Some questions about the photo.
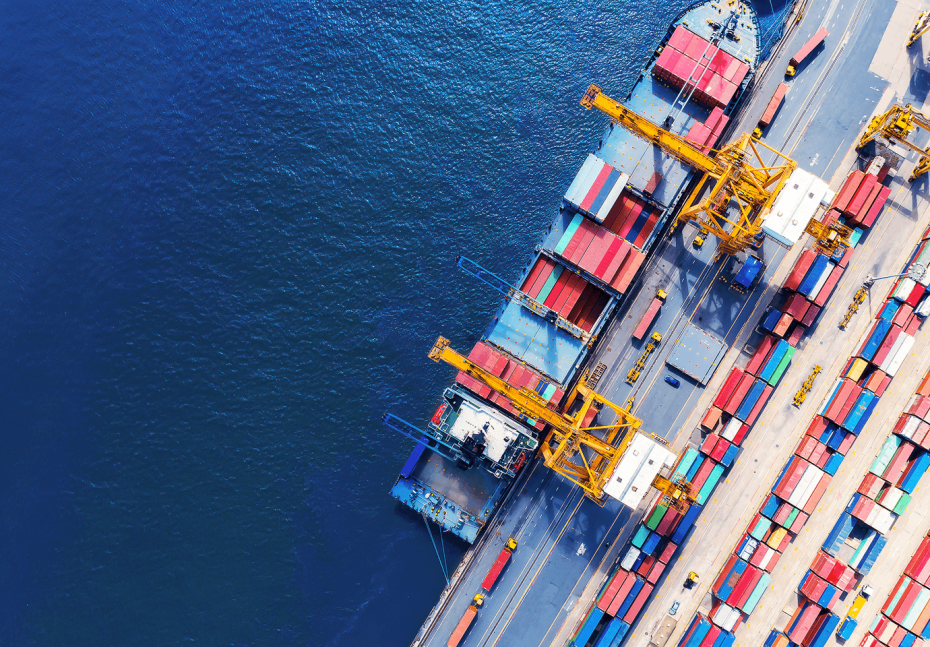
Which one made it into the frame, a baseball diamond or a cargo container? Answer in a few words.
cargo container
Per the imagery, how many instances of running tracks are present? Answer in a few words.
0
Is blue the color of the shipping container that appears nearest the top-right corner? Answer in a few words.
No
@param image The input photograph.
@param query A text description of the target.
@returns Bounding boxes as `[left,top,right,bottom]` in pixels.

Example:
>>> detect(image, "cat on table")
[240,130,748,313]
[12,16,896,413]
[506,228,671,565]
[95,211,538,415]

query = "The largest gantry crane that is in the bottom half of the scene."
[429,336,708,521]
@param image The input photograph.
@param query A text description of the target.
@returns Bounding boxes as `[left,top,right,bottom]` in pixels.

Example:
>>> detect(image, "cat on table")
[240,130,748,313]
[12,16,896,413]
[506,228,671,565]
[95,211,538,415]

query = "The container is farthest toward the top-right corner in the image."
[789,27,829,66]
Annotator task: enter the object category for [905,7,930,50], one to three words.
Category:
container crane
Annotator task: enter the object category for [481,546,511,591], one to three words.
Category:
shipping container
